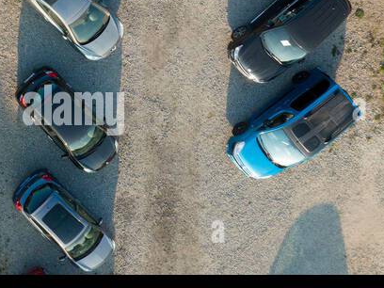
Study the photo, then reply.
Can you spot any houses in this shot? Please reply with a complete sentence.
No, there appears to be no house in this shot.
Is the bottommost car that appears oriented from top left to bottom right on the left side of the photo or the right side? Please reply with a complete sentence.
You can find the bottommost car that appears oriented from top left to bottom right on the left side of the picture.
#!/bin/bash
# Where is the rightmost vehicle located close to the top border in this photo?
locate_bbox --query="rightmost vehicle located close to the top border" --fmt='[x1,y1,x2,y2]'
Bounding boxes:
[227,0,356,80]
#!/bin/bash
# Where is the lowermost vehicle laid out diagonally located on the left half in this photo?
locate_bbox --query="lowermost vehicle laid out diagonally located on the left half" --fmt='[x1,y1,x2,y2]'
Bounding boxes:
[10,161,115,269]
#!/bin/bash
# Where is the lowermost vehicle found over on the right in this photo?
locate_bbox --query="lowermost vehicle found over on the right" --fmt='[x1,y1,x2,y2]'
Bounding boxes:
[226,69,364,178]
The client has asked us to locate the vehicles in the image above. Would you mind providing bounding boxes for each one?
[226,69,364,178]
[28,0,122,59]
[18,66,117,172]
[227,0,356,80]
[10,161,115,269]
